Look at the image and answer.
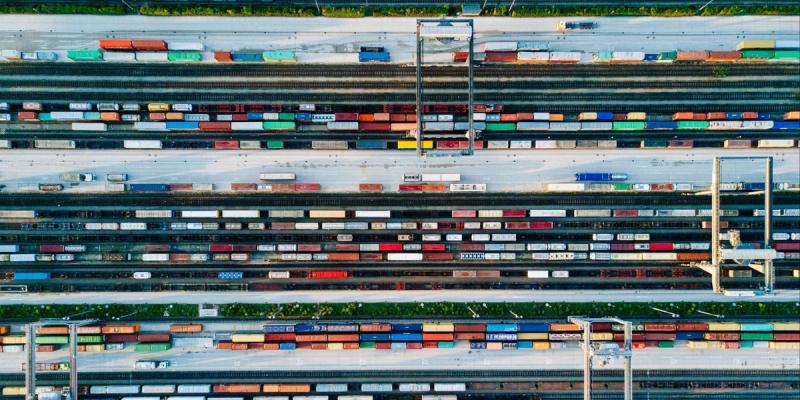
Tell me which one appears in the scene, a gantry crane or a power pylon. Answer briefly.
gantry crane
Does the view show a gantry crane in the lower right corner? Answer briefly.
Yes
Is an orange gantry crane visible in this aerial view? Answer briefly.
No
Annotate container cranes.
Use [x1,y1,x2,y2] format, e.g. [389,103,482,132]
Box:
[409,17,476,159]
[27,318,115,400]
[676,157,784,296]
[561,318,631,400]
